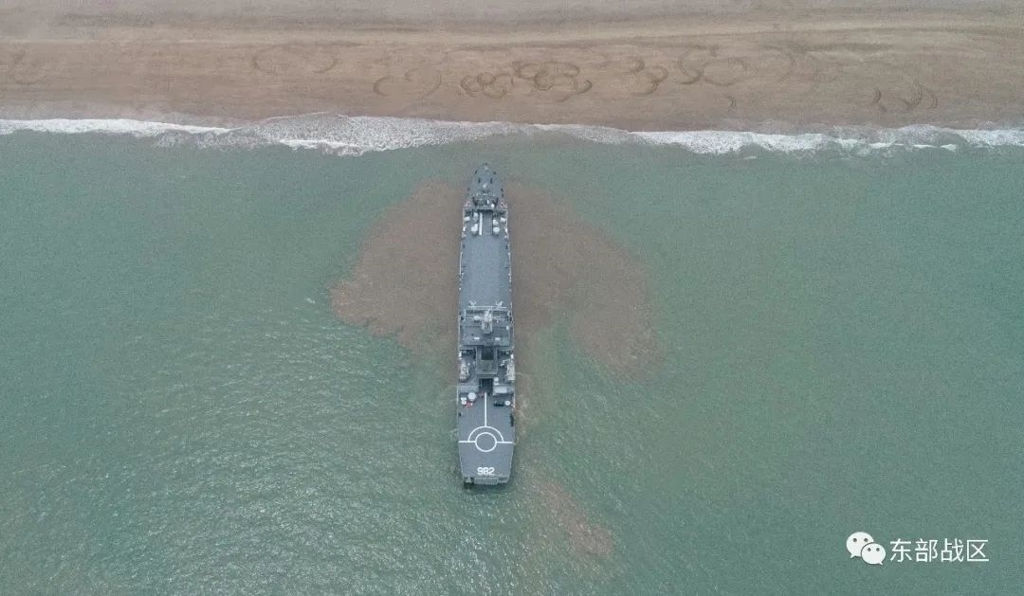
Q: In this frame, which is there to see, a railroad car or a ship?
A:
ship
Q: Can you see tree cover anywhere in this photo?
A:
No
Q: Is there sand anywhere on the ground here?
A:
Yes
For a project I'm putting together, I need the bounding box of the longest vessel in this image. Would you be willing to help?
[456,161,516,485]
